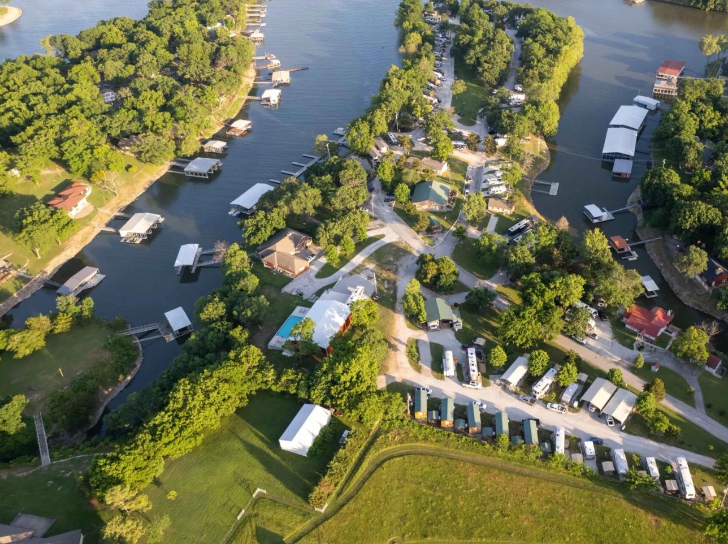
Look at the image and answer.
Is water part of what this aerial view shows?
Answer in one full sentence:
Yes, there is water in the image.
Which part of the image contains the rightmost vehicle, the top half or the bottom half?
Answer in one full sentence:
You can find the rightmost vehicle in the bottom half.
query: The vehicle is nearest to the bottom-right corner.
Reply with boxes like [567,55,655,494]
[674,459,696,504]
